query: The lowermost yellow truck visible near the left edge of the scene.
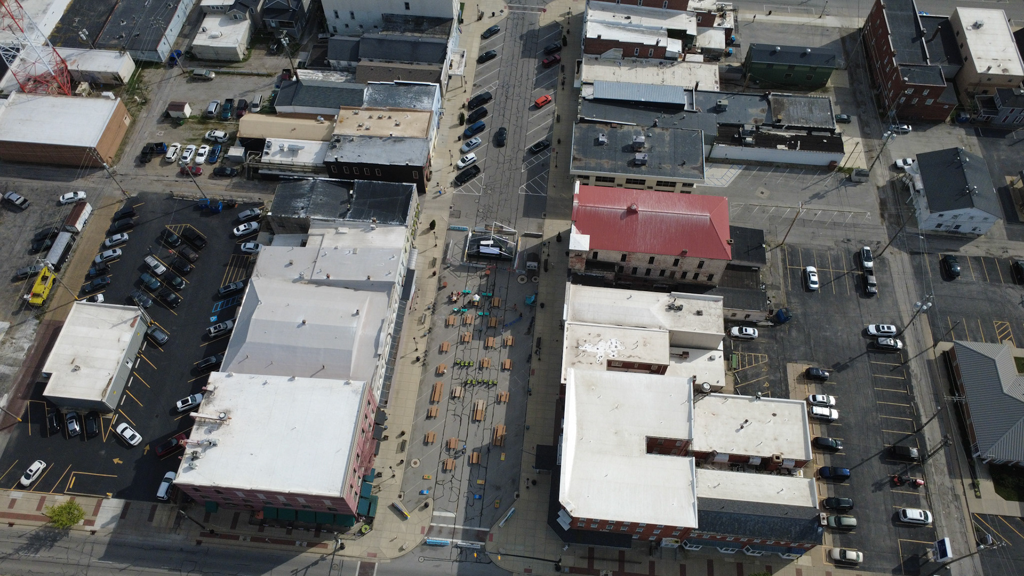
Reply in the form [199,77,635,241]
[25,268,56,307]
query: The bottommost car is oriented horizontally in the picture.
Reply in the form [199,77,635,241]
[830,548,862,565]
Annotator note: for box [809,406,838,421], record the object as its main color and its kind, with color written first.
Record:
white car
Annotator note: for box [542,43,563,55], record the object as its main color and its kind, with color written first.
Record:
black vehicle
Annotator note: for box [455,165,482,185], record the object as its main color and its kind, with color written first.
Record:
black car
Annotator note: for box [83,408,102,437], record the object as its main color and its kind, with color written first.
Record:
black car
